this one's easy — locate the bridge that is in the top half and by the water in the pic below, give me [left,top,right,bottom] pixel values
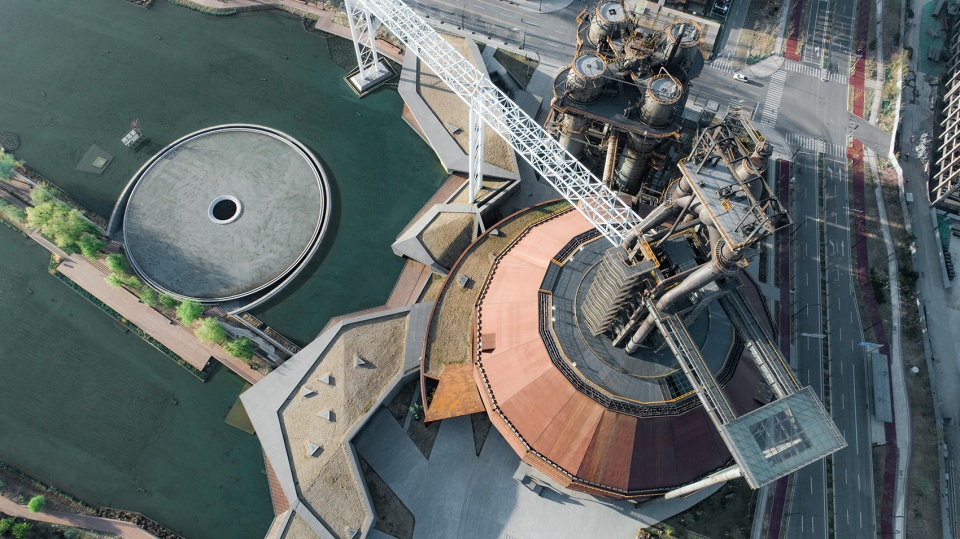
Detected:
[338,0,640,246]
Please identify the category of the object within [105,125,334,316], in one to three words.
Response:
building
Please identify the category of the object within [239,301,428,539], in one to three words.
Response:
building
